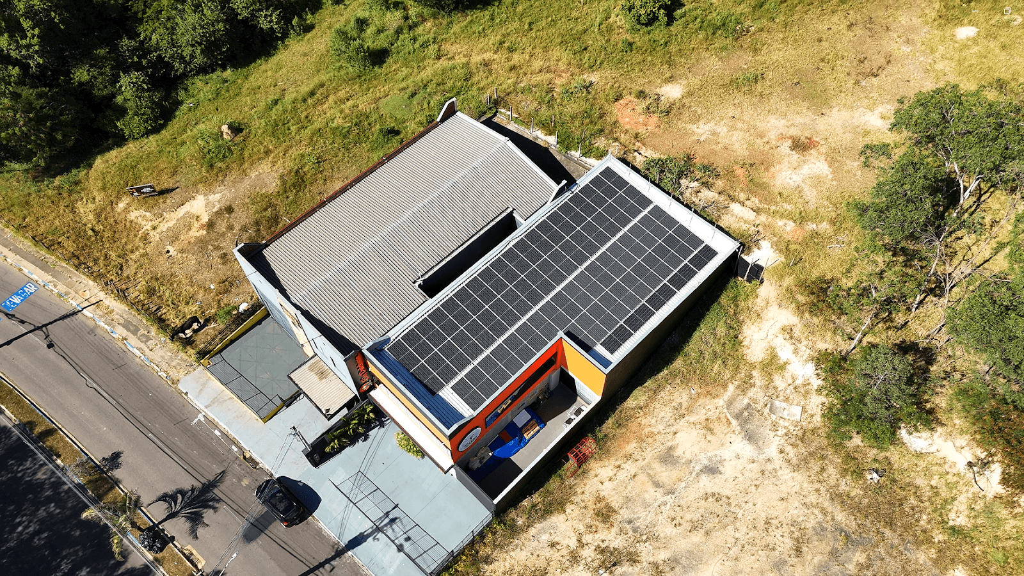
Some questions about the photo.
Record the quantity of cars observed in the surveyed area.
1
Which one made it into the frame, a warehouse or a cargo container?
warehouse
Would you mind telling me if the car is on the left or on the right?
left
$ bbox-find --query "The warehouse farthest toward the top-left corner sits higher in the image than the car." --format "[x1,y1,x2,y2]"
[233,95,569,405]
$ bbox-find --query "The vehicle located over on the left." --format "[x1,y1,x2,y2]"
[253,479,309,535]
